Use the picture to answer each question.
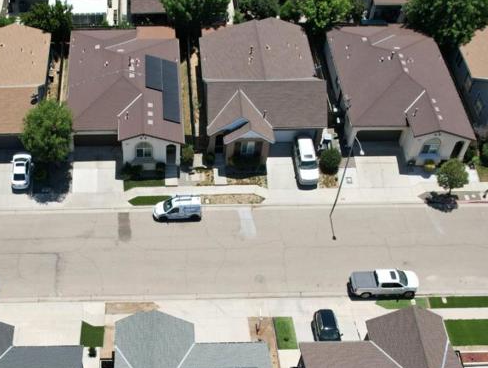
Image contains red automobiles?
No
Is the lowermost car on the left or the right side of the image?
right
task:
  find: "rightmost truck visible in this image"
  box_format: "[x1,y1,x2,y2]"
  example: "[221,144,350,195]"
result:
[347,269,417,297]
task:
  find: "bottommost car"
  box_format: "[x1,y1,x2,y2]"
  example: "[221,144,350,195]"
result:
[312,305,344,342]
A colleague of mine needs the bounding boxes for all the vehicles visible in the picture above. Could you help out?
[312,305,344,342]
[293,141,319,184]
[152,198,202,224]
[10,155,33,192]
[347,269,417,297]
